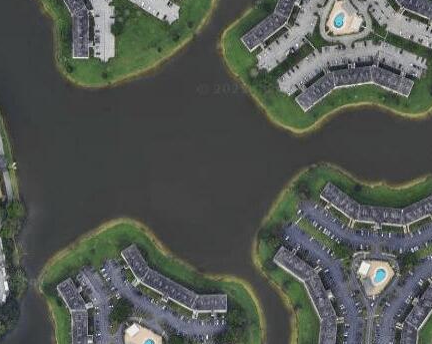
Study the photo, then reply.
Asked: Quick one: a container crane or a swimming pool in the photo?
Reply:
swimming pool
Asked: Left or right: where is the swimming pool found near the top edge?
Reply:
right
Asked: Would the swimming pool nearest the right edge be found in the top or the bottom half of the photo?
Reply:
bottom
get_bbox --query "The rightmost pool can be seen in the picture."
[359,261,395,294]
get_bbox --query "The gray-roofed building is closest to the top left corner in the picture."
[63,0,94,61]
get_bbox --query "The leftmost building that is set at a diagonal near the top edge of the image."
[242,0,298,54]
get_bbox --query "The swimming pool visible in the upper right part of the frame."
[325,0,364,35]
